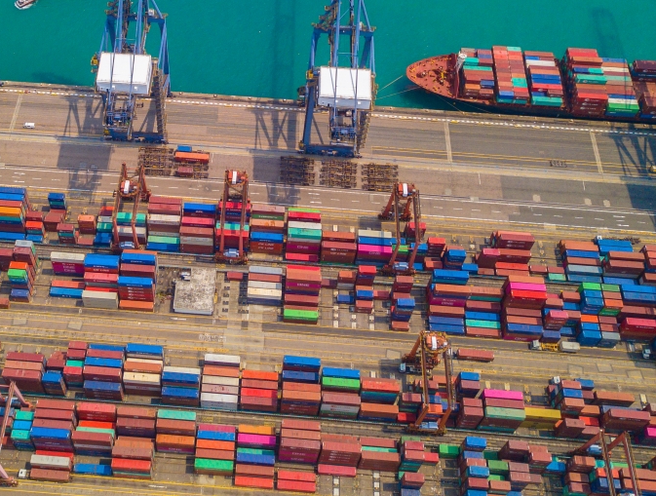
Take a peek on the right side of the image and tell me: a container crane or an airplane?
container crane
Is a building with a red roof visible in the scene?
No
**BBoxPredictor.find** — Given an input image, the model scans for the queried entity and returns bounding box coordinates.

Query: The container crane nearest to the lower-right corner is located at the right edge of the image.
[565,426,638,496]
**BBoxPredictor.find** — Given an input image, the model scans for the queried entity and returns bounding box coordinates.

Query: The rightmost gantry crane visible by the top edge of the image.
[299,0,375,162]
